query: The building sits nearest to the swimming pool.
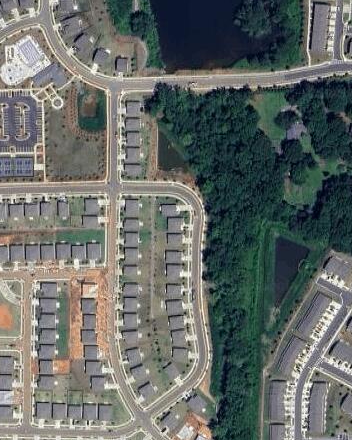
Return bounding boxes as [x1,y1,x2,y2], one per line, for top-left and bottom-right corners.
[31,60,70,90]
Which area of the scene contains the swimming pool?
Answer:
top left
